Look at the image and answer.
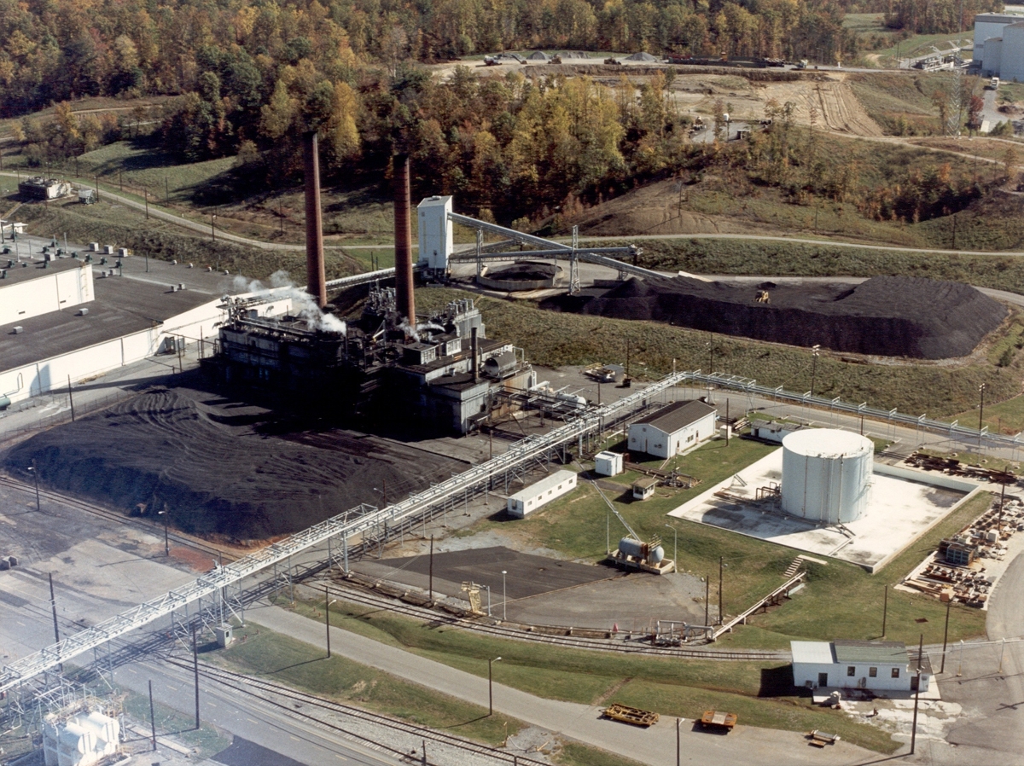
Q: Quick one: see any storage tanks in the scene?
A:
Yes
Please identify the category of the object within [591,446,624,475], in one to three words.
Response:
shed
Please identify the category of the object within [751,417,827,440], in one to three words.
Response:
shed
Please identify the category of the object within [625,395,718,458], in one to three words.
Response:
building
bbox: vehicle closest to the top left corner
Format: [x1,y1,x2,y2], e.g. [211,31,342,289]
[481,49,526,64]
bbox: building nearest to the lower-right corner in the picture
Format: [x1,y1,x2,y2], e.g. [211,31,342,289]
[786,634,940,692]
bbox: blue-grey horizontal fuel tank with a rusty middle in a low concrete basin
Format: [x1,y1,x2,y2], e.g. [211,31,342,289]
[608,533,677,574]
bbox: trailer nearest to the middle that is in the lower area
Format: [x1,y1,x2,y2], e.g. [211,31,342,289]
[518,467,580,517]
